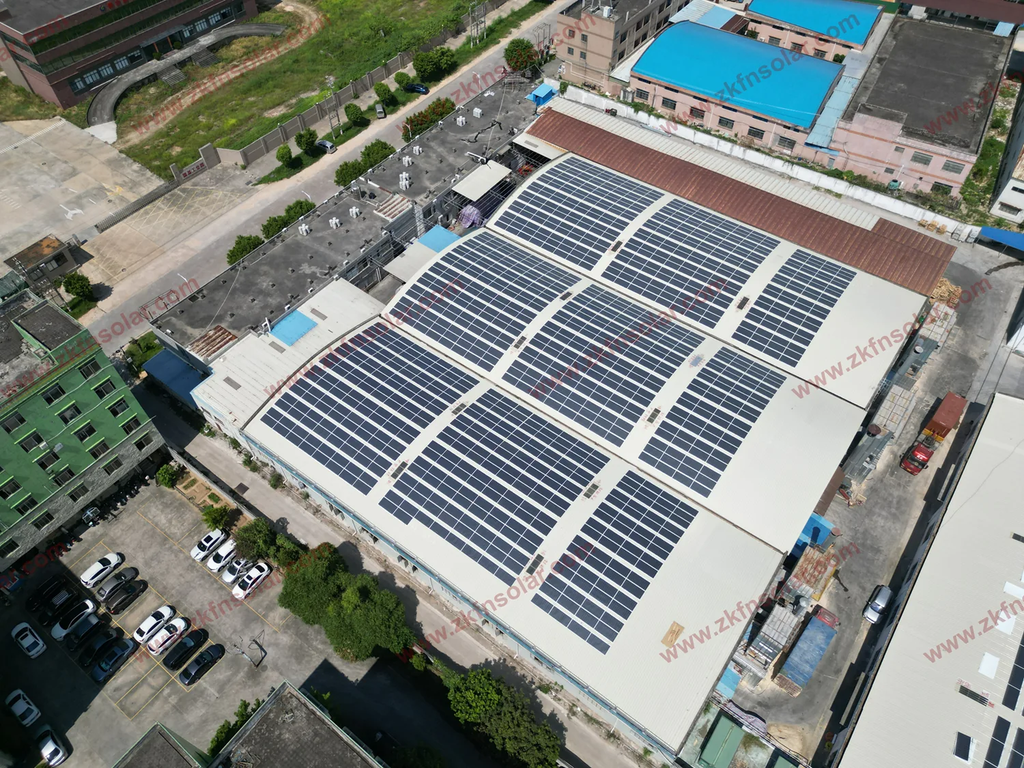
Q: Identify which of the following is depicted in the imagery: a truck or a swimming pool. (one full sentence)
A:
Visible in the photo is a truck.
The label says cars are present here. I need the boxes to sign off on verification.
[50,598,98,641]
[162,627,209,672]
[22,572,70,614]
[375,99,387,119]
[231,561,273,602]
[367,719,407,767]
[146,616,191,659]
[188,526,230,563]
[76,624,124,670]
[29,727,77,768]
[94,565,141,605]
[404,84,429,95]
[63,609,111,653]
[11,622,49,661]
[862,583,891,627]
[313,141,339,153]
[215,554,256,589]
[203,536,241,575]
[178,643,226,689]
[79,552,123,590]
[90,638,139,685]
[131,603,178,647]
[37,583,84,625]
[103,577,149,619]
[4,686,45,730]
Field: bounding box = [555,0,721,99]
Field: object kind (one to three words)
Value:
building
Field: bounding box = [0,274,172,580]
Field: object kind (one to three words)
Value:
building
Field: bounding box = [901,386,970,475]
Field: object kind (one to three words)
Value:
truck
